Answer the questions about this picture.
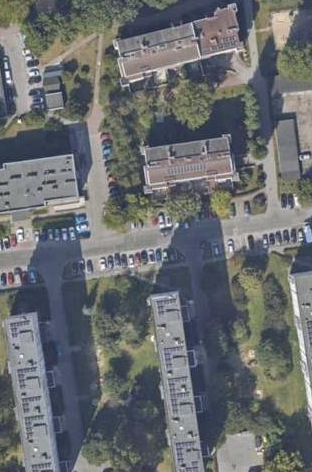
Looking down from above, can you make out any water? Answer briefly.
No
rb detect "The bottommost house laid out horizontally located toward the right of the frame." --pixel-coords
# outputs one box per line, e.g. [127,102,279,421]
[140,134,240,194]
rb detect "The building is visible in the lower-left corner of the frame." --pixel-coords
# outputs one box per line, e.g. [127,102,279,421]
[7,312,70,472]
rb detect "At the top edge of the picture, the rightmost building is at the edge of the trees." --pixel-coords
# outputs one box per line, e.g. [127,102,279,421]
[112,2,244,85]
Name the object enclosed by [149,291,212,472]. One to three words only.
building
